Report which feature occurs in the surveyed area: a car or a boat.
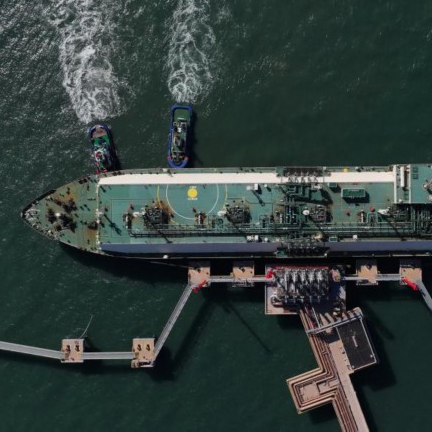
boat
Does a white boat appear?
No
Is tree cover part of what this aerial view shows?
No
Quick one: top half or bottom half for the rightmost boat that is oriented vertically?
top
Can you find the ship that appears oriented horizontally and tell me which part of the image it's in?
center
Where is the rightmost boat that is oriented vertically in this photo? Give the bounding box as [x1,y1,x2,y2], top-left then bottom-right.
[166,104,194,168]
